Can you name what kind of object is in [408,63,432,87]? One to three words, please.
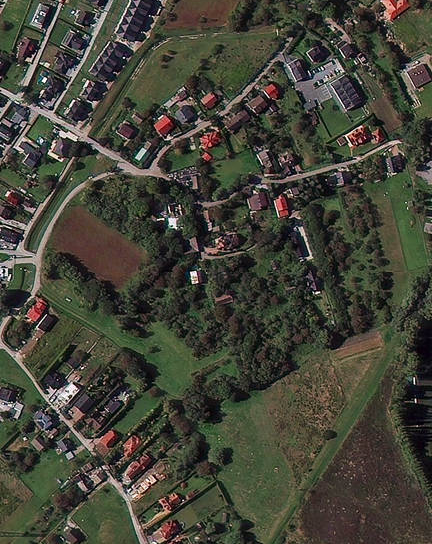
house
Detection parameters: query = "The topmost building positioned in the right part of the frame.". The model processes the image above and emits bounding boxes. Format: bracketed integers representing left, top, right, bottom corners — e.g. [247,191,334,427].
[382,0,411,19]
